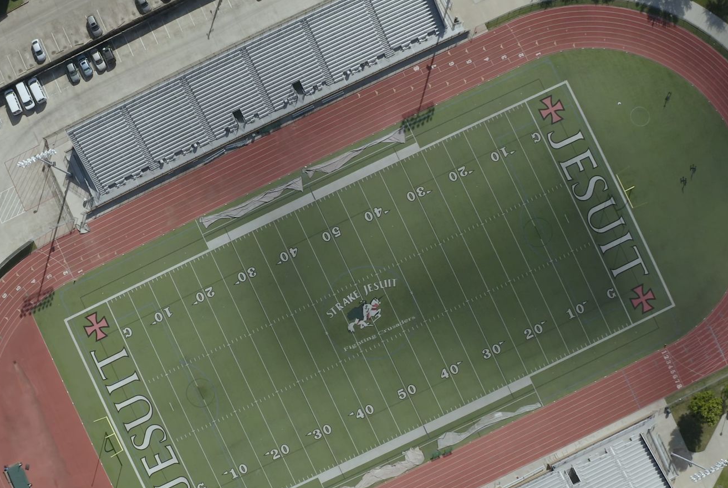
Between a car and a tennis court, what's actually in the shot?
car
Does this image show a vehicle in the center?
No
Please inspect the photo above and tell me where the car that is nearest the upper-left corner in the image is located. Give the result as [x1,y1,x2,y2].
[30,37,46,63]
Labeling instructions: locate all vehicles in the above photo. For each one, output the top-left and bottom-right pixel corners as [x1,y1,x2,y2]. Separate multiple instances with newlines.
[15,80,36,111]
[29,76,49,106]
[5,87,25,118]
[77,54,94,80]
[64,60,81,86]
[86,12,102,38]
[137,0,151,15]
[91,48,107,73]
[30,37,46,63]
[100,43,117,69]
